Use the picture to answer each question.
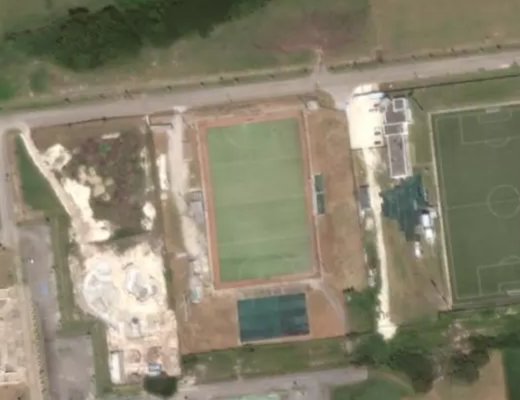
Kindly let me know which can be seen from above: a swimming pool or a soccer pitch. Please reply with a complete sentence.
The one in the frame is a soccer pitch.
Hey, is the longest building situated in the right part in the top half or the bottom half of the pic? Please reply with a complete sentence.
The longest building situated in the right part sits in the top half of the picture.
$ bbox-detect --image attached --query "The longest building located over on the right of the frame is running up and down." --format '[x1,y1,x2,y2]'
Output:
[384,96,413,178]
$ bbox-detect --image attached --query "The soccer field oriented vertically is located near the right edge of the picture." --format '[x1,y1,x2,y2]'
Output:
[432,104,520,305]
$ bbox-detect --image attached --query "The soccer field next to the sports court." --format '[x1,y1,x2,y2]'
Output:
[199,110,318,289]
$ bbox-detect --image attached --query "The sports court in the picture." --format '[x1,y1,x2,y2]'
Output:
[238,292,309,343]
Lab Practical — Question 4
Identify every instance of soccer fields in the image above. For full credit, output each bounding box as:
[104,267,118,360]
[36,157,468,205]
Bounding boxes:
[432,104,520,305]
[199,110,318,289]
